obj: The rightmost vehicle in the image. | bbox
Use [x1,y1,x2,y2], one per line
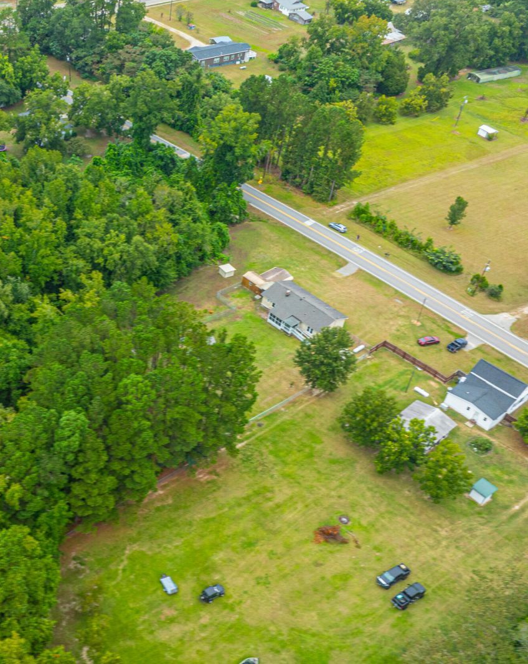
[444,337,472,353]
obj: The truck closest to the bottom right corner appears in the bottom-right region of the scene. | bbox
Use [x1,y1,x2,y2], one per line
[390,582,430,614]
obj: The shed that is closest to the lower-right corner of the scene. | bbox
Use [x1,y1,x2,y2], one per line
[468,484,499,510]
